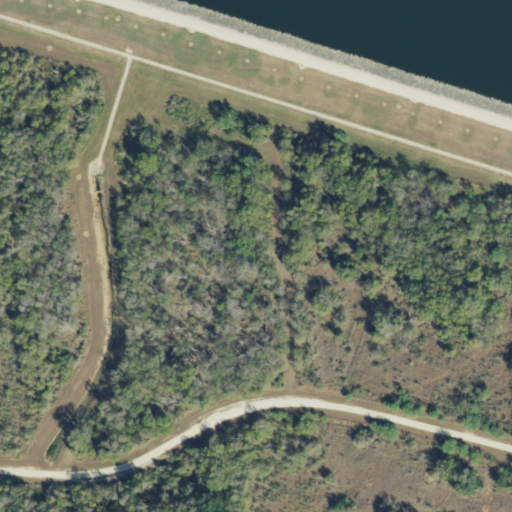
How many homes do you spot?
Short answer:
0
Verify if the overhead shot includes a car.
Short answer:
No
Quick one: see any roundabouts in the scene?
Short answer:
No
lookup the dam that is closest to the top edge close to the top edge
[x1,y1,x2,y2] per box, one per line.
[0,0,512,166]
